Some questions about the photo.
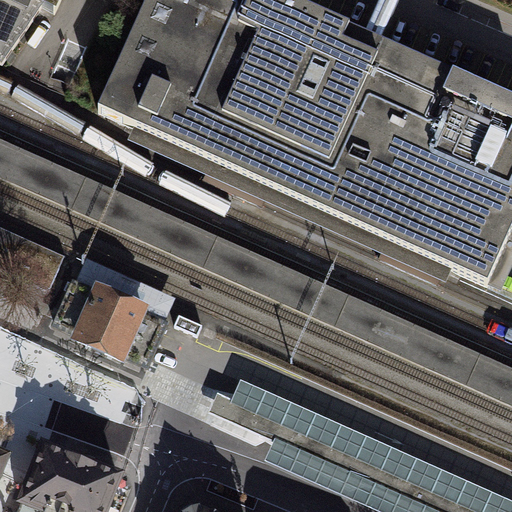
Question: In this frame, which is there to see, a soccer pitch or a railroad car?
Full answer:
Looking from above, you can make out a railroad car.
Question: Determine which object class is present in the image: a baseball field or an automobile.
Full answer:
Looking from above, you can make out an automobile.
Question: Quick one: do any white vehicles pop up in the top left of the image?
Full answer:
Yes, looking in the top left of the image, one can make out a white vehicle.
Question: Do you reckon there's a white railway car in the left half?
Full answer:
Yes, a white railway car is visible in the left half.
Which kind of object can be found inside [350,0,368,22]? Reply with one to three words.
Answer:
car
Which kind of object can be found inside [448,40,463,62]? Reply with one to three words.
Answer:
car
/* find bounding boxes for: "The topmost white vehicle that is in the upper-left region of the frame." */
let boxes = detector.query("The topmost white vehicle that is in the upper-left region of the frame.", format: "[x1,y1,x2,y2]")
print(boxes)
[28,22,52,50]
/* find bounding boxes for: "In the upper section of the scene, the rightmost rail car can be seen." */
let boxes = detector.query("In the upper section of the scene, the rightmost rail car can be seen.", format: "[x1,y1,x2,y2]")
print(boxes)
[158,170,232,216]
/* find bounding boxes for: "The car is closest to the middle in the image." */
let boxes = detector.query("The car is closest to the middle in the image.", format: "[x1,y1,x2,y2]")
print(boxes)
[154,354,178,370]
